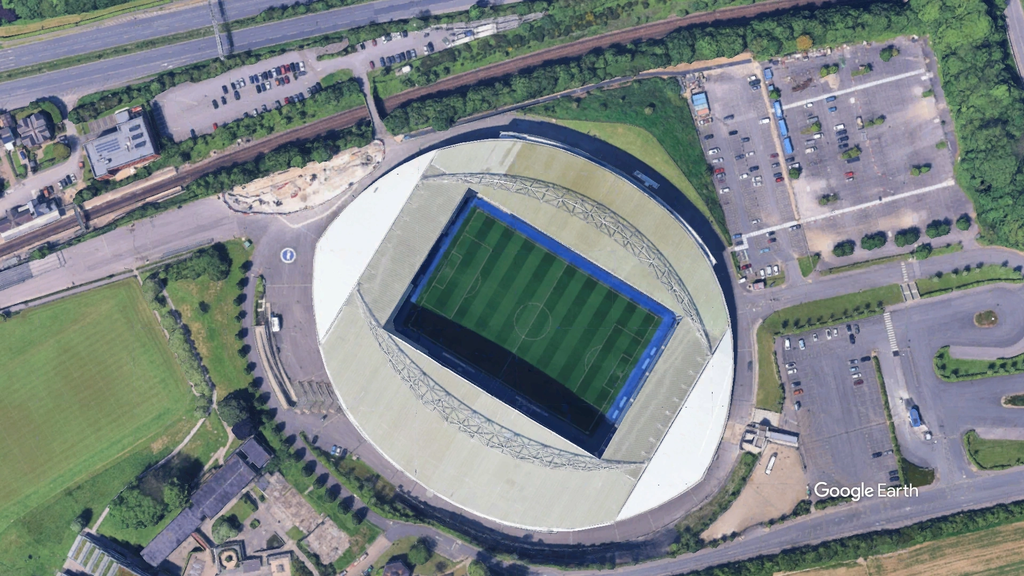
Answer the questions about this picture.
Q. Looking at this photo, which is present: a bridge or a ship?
bridge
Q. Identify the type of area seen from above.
sports ground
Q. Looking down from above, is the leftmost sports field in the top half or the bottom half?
bottom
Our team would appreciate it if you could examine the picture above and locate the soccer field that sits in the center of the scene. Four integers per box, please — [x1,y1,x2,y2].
[400,203,666,440]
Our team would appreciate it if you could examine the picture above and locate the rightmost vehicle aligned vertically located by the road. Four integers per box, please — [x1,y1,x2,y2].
[909,407,921,427]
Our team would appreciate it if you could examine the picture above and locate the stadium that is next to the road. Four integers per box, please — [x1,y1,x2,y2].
[312,132,735,533]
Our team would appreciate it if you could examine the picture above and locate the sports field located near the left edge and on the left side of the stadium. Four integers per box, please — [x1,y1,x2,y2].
[0,278,194,517]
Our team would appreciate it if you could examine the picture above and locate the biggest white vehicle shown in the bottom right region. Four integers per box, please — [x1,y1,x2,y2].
[765,453,778,474]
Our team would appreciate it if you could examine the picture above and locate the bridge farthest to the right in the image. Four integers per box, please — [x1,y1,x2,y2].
[357,84,389,141]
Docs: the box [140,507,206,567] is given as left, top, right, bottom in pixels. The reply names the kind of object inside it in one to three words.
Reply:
building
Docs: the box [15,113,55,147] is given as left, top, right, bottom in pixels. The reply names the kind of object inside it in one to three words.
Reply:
house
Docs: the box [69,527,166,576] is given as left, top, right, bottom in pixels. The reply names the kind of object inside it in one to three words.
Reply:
building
